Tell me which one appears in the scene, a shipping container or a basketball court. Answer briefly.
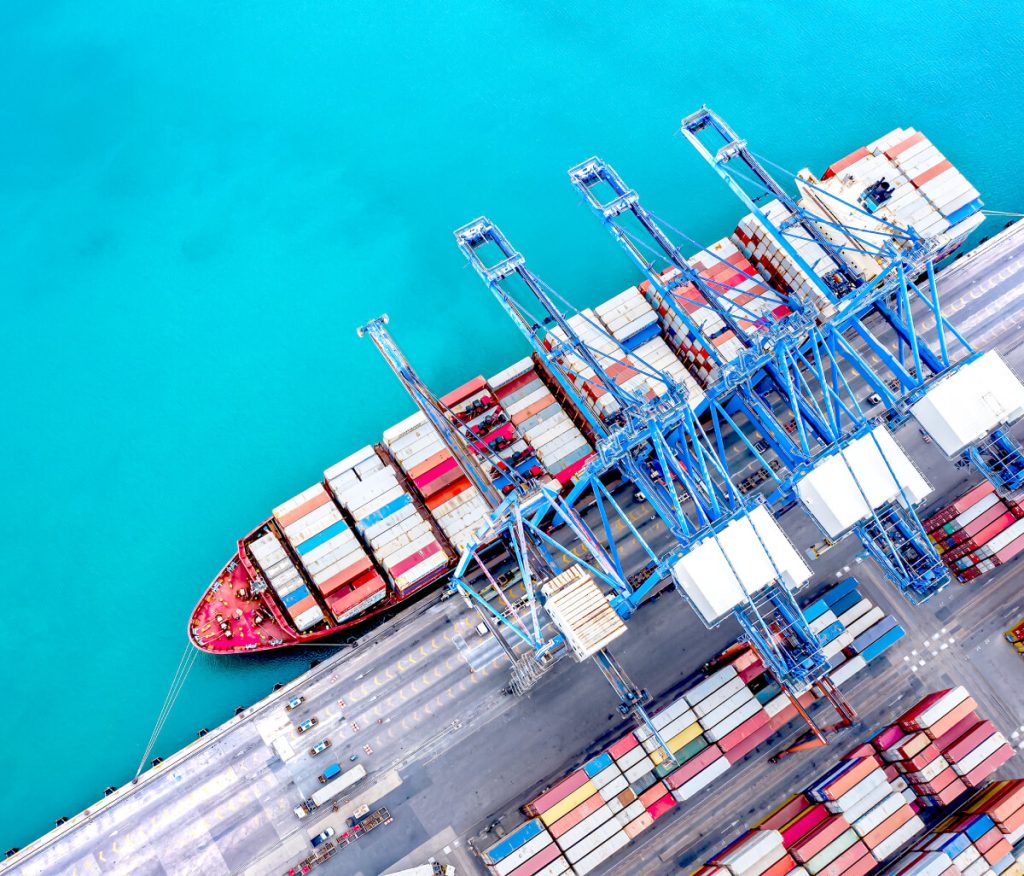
shipping container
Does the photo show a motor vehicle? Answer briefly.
Yes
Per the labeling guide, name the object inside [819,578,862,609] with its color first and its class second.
blue shipping container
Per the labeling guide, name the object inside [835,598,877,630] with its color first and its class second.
white shipping container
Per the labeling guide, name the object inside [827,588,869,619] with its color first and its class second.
blue shipping container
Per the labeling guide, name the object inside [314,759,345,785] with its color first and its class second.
blue truck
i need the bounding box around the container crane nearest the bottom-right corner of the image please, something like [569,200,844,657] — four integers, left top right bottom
[710,621,858,764]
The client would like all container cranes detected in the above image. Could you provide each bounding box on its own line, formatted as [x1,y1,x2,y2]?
[451,209,838,703]
[682,100,1024,534]
[356,305,691,776]
[710,621,858,764]
[567,150,958,616]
